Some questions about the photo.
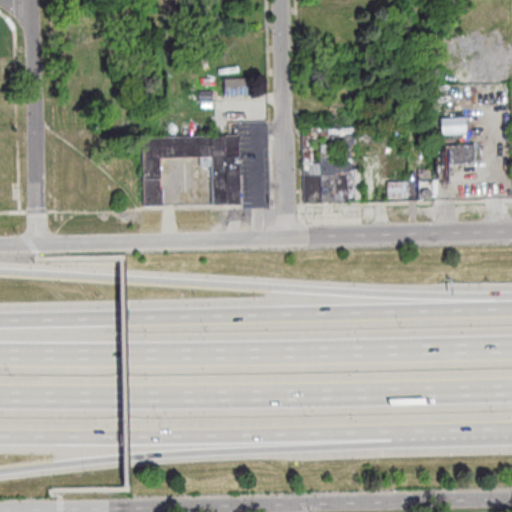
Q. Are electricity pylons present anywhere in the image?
No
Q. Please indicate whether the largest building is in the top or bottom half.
top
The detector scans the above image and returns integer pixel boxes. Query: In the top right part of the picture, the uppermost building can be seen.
[441,117,469,137]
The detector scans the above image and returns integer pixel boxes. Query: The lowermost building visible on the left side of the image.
[144,135,240,206]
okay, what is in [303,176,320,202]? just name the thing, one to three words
building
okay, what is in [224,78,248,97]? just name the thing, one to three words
building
